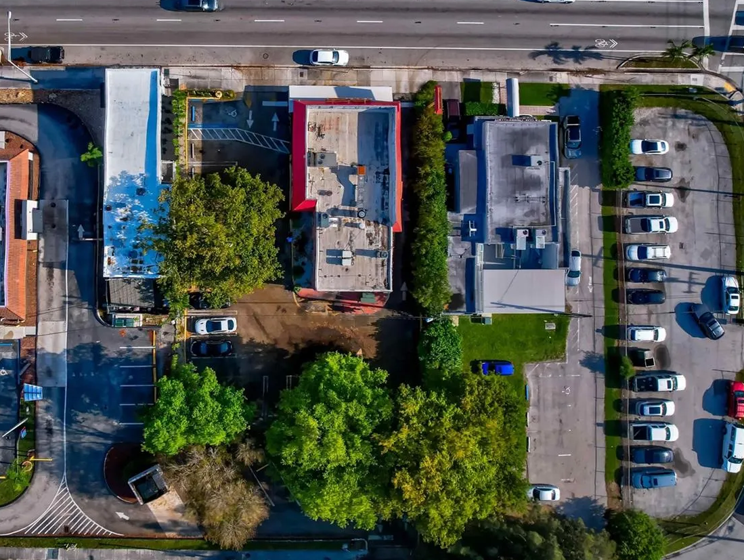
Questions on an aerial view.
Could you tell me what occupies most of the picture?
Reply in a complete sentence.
What you mostly see from above here is paved ground.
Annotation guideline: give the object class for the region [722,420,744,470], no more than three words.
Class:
vehicle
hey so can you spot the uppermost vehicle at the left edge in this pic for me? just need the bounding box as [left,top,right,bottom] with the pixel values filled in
[28,44,65,64]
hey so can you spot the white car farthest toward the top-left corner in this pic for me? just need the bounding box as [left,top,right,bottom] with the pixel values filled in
[309,48,348,67]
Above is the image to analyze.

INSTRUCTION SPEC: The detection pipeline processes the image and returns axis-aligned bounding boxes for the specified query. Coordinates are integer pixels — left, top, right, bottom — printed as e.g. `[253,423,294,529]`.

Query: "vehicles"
[631,468,677,490]
[633,374,687,394]
[479,359,514,377]
[624,242,671,261]
[180,0,219,14]
[720,275,743,314]
[566,249,584,288]
[624,215,677,234]
[523,483,563,503]
[625,267,667,285]
[631,138,669,157]
[28,44,65,64]
[633,165,674,183]
[635,399,675,417]
[625,288,667,306]
[192,339,231,358]
[627,325,666,344]
[722,420,744,470]
[630,446,674,465]
[629,422,679,444]
[190,291,229,309]
[309,48,348,67]
[725,381,744,419]
[624,189,673,210]
[196,317,235,336]
[690,303,726,342]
